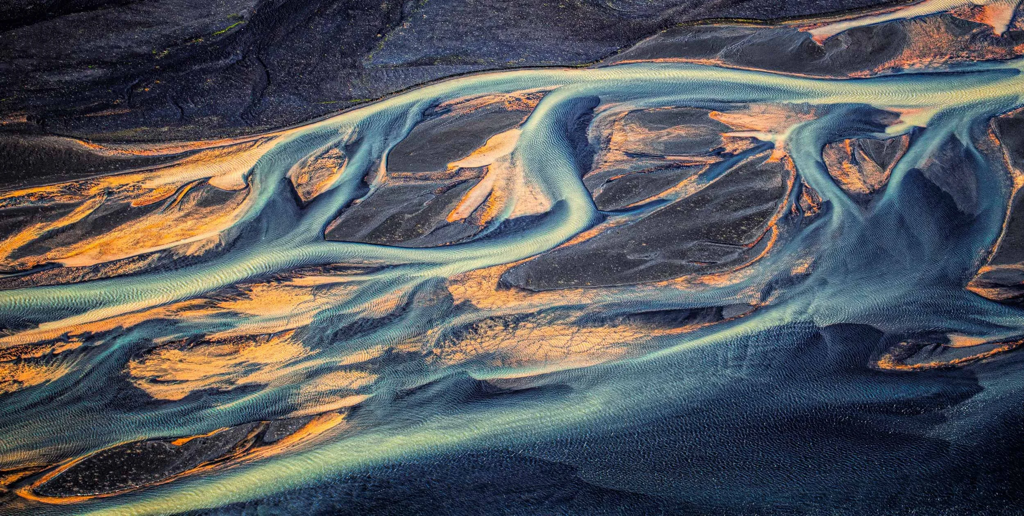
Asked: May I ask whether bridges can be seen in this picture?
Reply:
No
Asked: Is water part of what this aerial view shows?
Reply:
Yes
